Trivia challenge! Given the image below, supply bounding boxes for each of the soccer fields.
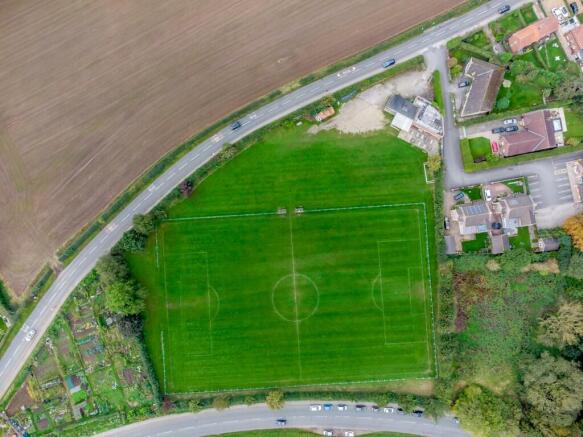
[126,122,440,402]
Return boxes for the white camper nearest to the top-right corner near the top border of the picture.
[550,7,568,19]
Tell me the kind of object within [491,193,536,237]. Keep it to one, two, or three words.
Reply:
house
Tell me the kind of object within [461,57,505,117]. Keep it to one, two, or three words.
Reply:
house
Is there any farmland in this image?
Yes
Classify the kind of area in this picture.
sports ground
